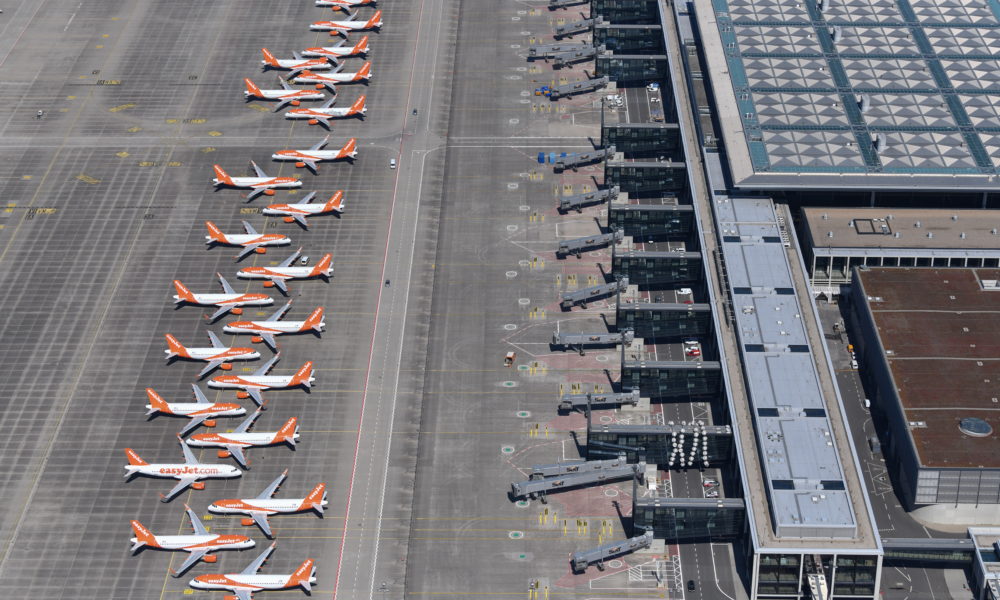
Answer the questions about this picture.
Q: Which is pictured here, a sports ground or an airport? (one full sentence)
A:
It's an airport.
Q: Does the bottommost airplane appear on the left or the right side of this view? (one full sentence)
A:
The bottommost airplane is on the left side of the image.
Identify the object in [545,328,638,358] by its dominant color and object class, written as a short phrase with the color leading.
gray jet bridge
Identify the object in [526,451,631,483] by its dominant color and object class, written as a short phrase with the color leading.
gray jet bridge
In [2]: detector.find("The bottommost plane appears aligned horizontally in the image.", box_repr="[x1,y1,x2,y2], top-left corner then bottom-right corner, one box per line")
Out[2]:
[189,541,315,600]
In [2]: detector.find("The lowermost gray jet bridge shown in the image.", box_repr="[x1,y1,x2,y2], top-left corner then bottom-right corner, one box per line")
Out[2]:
[567,527,657,578]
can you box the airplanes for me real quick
[302,36,369,64]
[164,329,261,379]
[262,48,331,77]
[131,504,255,577]
[173,273,273,321]
[263,190,345,228]
[223,299,324,350]
[244,77,325,109]
[189,541,315,600]
[205,220,291,260]
[271,135,357,171]
[311,10,383,37]
[237,247,334,293]
[189,407,302,467]
[208,352,314,407]
[315,0,379,15]
[296,61,373,91]
[209,470,327,537]
[146,382,246,437]
[285,94,367,127]
[124,437,242,501]
[213,160,302,199]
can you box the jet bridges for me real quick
[523,40,595,64]
[555,183,623,217]
[552,227,628,260]
[555,275,633,313]
[567,527,657,578]
[549,144,619,176]
[546,73,611,105]
[505,458,649,506]
[549,41,607,70]
[555,387,644,420]
[526,451,631,483]
[550,13,604,42]
[545,328,638,358]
